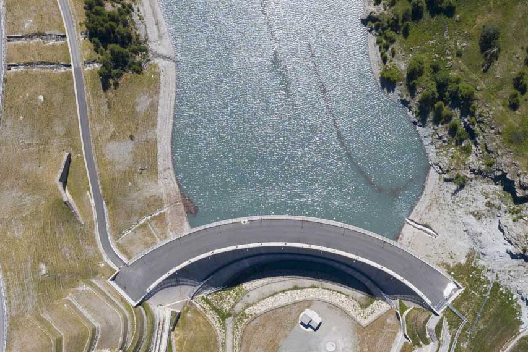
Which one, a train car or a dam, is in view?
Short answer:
dam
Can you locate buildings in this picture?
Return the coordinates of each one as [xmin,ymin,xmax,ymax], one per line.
[299,309,321,331]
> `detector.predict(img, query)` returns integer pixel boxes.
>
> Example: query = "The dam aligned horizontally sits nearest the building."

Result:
[107,208,465,316]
